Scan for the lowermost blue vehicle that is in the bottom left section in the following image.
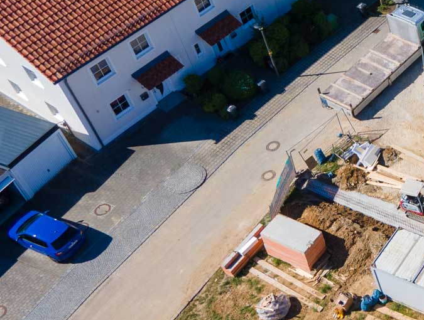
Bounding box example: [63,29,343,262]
[5,215,92,267]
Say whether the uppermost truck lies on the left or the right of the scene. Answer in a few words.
right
